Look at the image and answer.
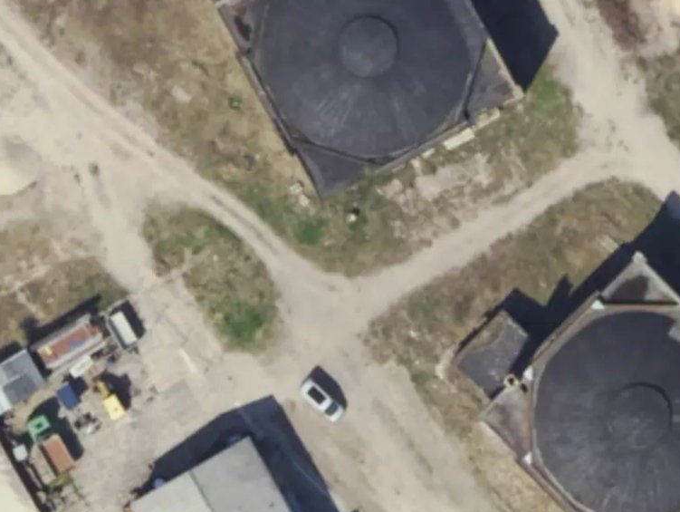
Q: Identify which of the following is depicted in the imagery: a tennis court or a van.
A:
van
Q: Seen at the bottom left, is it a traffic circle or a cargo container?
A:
cargo container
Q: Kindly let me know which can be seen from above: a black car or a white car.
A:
white car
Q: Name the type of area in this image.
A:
industrial area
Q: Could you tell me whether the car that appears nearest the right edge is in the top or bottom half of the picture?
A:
bottom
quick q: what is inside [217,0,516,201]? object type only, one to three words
storage tank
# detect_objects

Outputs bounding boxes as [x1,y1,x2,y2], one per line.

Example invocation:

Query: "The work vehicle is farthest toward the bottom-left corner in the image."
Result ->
[95,377,126,420]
